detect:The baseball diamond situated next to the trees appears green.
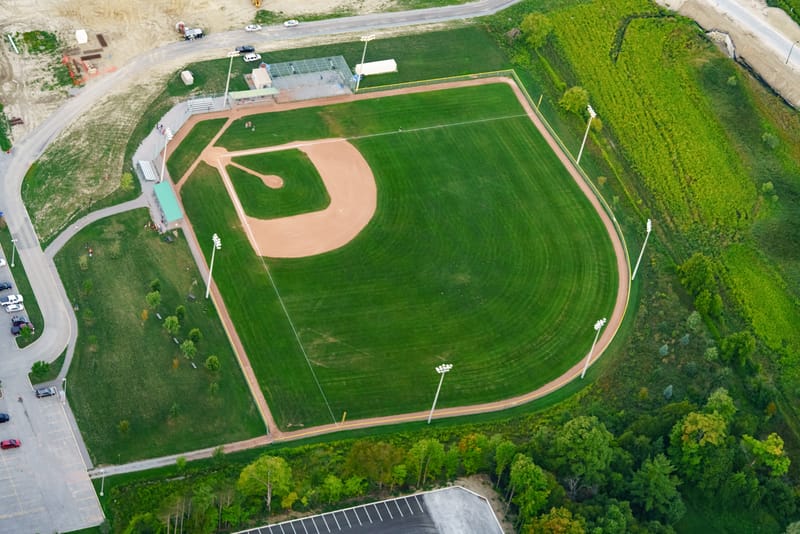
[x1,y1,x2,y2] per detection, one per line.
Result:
[159,76,628,444]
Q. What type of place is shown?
sports ground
